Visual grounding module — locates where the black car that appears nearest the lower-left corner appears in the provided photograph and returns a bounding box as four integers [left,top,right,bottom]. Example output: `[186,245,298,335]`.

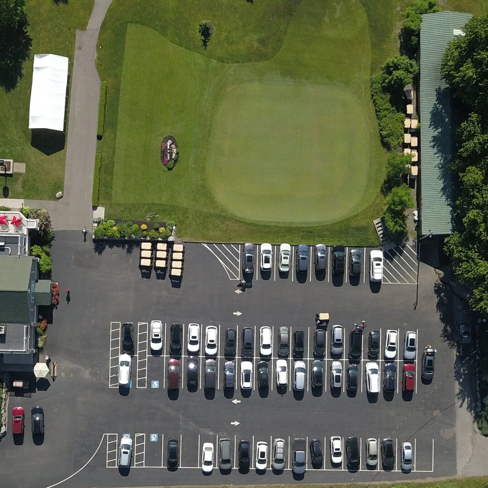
[30,405,45,434]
